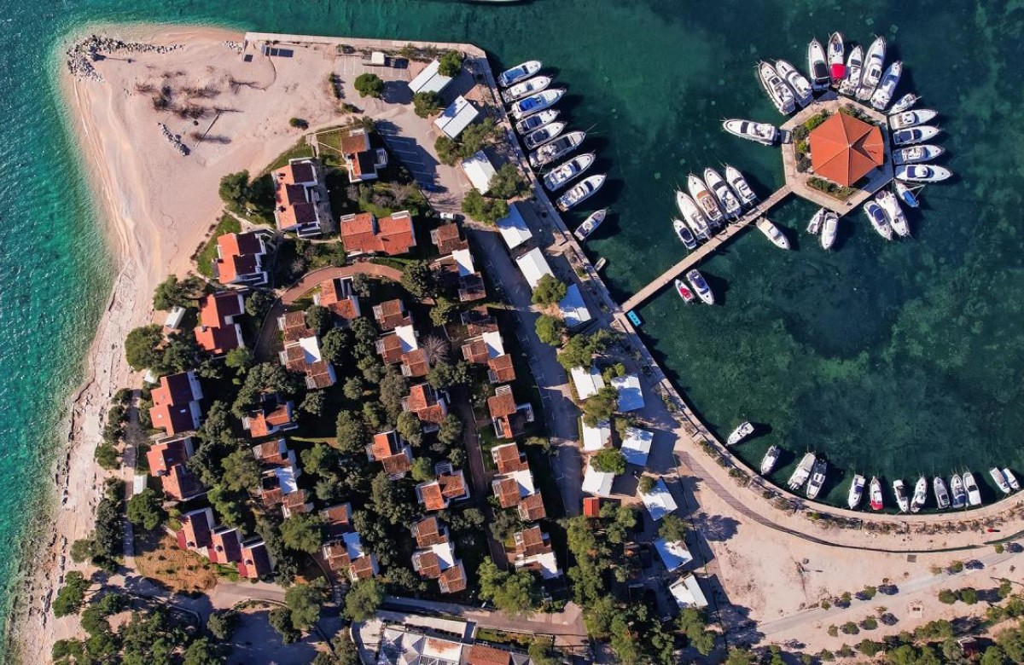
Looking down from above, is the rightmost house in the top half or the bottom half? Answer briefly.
bottom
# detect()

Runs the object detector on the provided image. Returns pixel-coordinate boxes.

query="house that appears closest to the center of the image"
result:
[461,307,515,384]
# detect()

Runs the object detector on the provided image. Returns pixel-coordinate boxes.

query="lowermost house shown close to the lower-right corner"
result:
[948,628,978,658]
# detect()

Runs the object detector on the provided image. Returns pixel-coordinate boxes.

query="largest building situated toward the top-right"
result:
[806,111,884,187]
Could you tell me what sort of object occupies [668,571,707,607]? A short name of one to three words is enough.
building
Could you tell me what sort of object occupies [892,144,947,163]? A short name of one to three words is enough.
boat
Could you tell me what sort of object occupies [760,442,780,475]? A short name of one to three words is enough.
boat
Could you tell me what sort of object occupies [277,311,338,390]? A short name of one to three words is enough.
house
